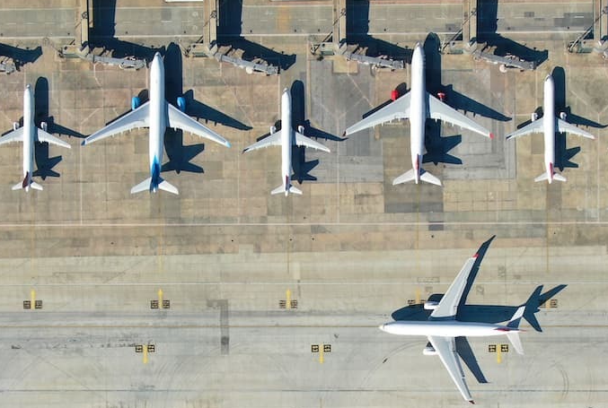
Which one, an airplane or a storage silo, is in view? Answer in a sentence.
It is an airplane that can be seen here.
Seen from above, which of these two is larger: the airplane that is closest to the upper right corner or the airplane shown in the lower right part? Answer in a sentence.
The airplane shown in the lower right part is bigger than the airplane that is closest to the upper right corner.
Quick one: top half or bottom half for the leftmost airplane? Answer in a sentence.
The leftmost airplane is in the top half of the image.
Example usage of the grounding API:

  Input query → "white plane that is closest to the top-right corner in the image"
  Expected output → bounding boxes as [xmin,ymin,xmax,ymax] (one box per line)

[508,74,593,181]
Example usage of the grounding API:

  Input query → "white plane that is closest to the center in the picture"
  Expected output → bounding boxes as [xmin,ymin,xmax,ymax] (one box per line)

[243,88,329,195]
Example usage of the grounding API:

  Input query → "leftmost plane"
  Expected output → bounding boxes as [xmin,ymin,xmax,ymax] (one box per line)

[0,85,69,192]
